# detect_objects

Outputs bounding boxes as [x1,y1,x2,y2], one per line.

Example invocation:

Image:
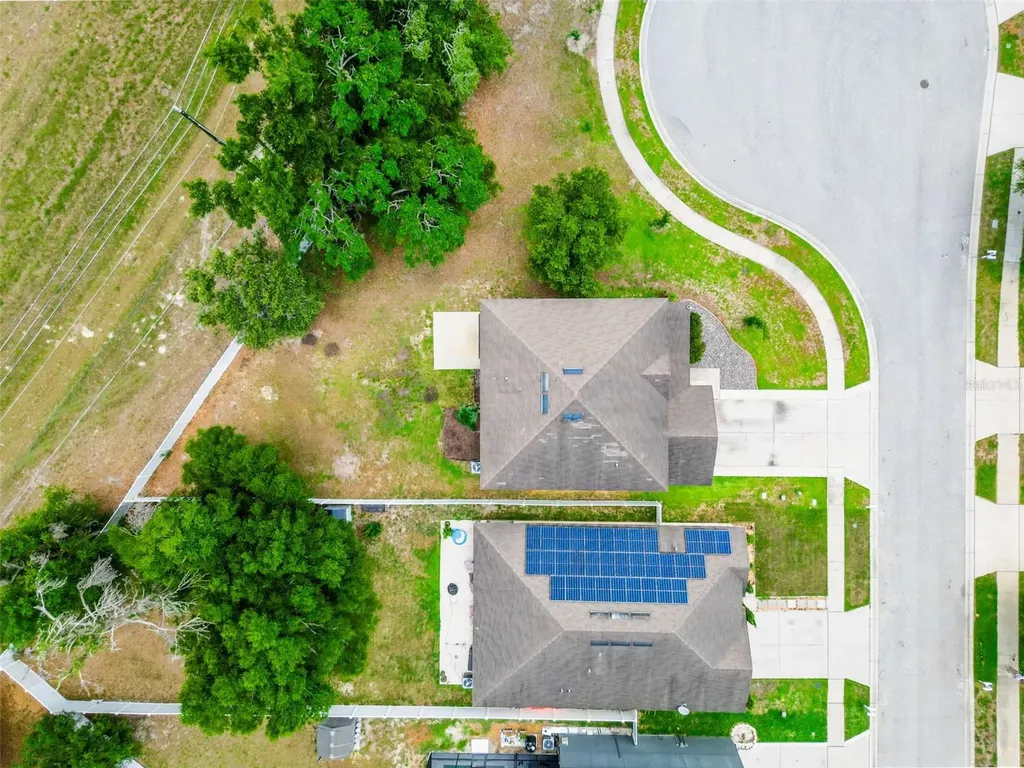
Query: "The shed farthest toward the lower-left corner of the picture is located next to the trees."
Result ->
[317,718,360,764]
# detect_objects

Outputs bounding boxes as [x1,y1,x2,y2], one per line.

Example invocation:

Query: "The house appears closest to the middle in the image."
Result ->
[479,298,718,491]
